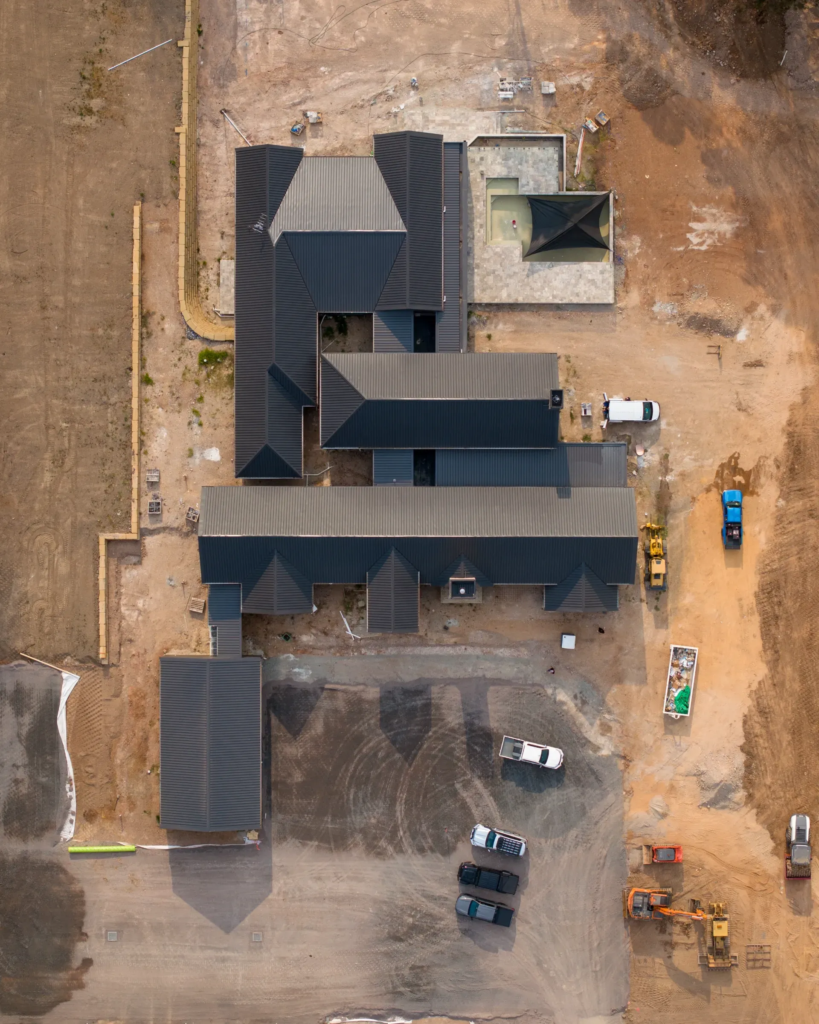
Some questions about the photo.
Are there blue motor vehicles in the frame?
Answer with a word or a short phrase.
Yes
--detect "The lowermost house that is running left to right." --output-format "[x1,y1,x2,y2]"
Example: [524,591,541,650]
[198,486,639,633]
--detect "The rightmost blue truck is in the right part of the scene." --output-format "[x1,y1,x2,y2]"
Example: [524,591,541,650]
[720,489,746,550]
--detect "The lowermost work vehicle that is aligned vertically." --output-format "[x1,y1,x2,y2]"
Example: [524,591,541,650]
[706,899,732,971]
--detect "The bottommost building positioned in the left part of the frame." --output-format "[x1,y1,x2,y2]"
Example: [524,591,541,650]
[159,657,262,832]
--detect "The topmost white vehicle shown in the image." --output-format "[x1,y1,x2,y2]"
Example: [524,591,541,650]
[604,391,660,431]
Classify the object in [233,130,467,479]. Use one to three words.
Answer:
house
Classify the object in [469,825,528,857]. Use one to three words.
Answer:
car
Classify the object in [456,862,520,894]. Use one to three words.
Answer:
truck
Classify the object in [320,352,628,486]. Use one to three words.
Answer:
house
